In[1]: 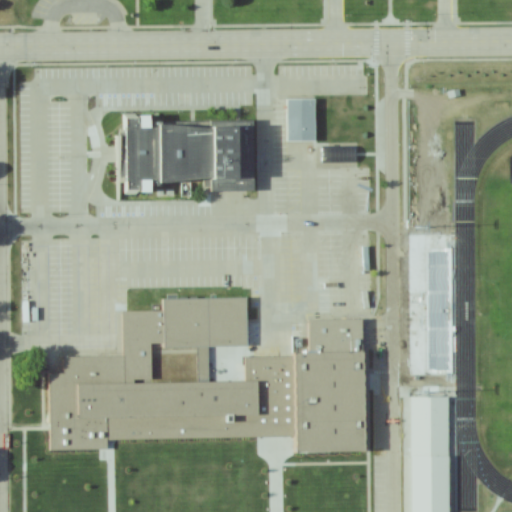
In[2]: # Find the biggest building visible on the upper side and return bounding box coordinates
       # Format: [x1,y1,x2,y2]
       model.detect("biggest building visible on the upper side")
[114,114,256,200]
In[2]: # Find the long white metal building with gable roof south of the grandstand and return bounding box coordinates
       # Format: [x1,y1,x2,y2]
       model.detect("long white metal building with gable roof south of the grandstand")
[408,397,450,512]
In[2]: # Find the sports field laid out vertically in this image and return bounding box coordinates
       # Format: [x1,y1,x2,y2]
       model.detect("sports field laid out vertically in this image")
[476,138,512,480]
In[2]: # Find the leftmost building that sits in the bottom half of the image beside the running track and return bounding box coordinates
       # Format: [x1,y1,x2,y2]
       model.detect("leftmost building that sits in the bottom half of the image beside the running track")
[49,298,366,452]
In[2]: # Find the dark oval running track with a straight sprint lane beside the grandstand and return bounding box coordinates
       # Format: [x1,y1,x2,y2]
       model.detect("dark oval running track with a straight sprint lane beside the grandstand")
[456,116,512,509]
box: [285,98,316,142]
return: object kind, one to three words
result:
shed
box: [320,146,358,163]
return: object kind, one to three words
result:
shed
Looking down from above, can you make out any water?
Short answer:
No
